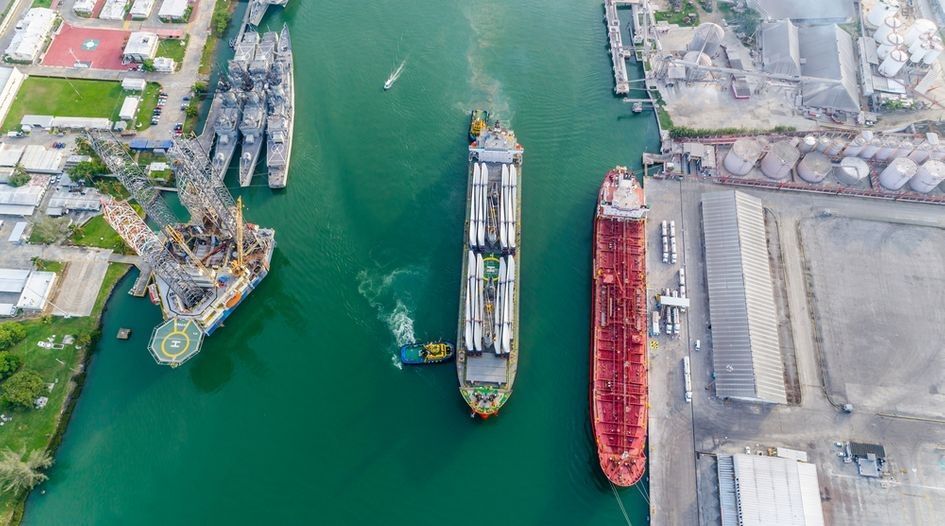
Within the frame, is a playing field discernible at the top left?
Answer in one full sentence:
Yes, a playing field can be seen at the top left.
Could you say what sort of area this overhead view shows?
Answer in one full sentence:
It's an industrial area.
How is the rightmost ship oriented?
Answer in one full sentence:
From this overhead view, the rightmost ship appears to run up and down.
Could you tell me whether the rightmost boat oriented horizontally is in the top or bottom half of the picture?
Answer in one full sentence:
The rightmost boat oriented horizontally is in the bottom half of the image.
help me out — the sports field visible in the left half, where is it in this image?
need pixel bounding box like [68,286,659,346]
[7,74,121,126]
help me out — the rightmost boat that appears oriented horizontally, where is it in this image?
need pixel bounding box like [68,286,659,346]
[400,341,455,365]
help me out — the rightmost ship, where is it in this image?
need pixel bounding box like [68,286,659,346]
[589,166,653,486]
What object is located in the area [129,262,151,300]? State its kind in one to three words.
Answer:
pier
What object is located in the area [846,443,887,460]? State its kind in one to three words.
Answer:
building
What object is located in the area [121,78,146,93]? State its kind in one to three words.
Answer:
shed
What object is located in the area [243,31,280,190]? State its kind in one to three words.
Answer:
ship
